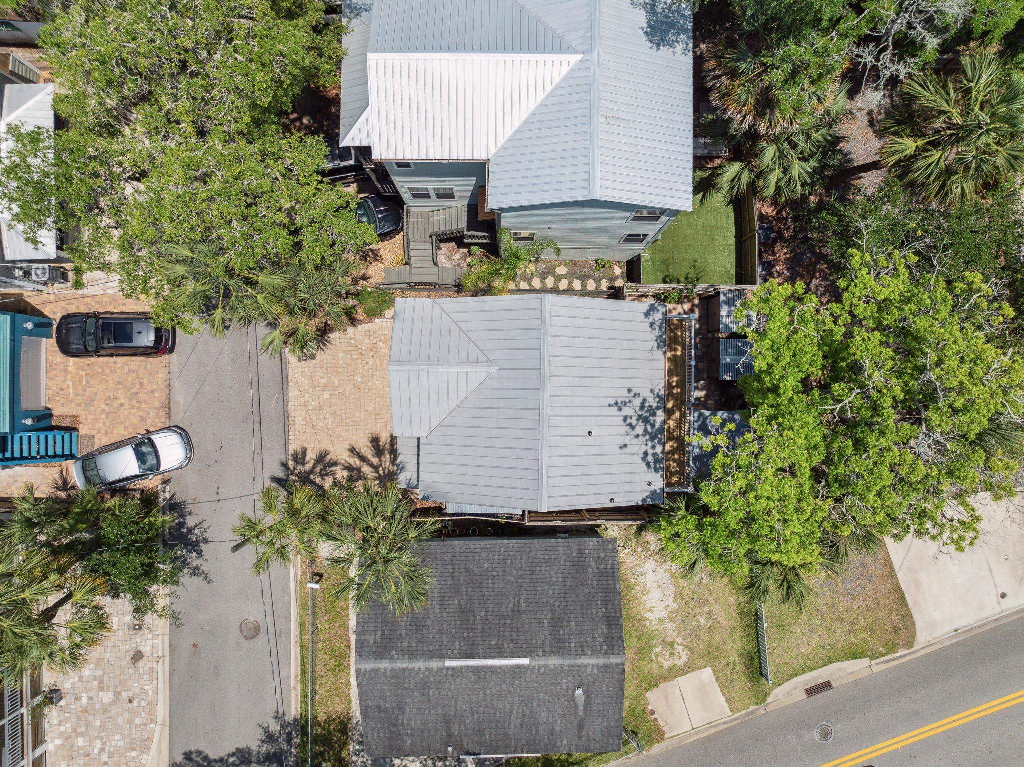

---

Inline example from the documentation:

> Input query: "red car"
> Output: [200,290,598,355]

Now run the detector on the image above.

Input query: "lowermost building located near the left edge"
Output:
[0,314,53,434]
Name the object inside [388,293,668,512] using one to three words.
house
